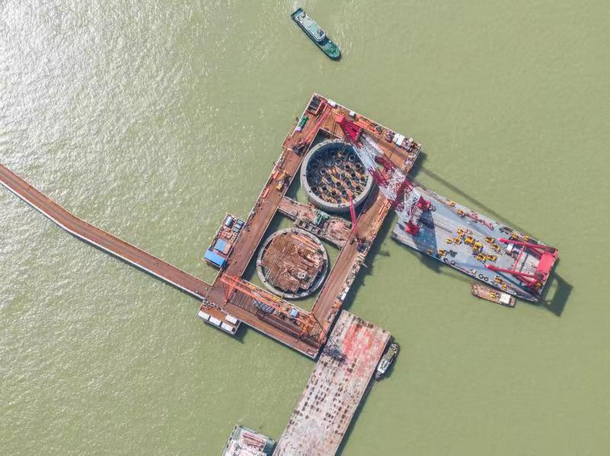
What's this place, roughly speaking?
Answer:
port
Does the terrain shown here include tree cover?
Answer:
No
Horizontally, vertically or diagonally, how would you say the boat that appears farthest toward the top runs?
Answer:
diagonally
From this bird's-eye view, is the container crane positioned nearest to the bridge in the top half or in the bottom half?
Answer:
bottom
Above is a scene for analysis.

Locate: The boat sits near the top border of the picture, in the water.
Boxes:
[291,7,340,57]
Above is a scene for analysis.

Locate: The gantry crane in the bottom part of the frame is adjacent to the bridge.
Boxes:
[223,274,322,344]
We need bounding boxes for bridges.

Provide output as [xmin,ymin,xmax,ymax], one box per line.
[0,163,212,300]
